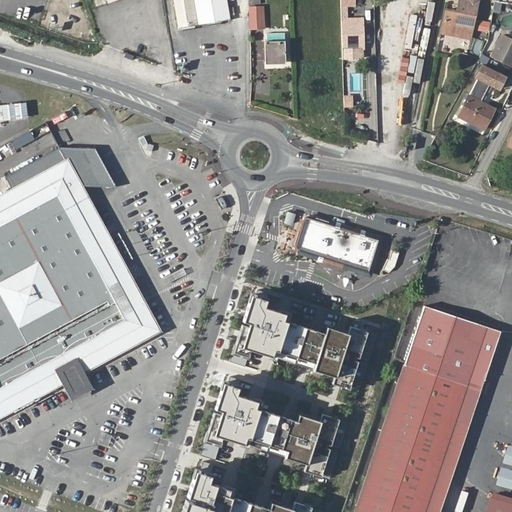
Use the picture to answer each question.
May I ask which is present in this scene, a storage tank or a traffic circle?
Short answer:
traffic circle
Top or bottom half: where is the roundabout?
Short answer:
top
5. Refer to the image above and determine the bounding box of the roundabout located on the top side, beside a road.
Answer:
[220,120,290,190]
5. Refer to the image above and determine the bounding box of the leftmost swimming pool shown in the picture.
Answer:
[264,28,288,41]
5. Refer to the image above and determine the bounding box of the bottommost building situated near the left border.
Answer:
[0,148,163,417]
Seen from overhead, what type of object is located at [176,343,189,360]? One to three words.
vehicle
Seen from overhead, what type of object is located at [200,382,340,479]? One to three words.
building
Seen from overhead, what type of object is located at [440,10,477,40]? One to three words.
house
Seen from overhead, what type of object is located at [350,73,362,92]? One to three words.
swimming pool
